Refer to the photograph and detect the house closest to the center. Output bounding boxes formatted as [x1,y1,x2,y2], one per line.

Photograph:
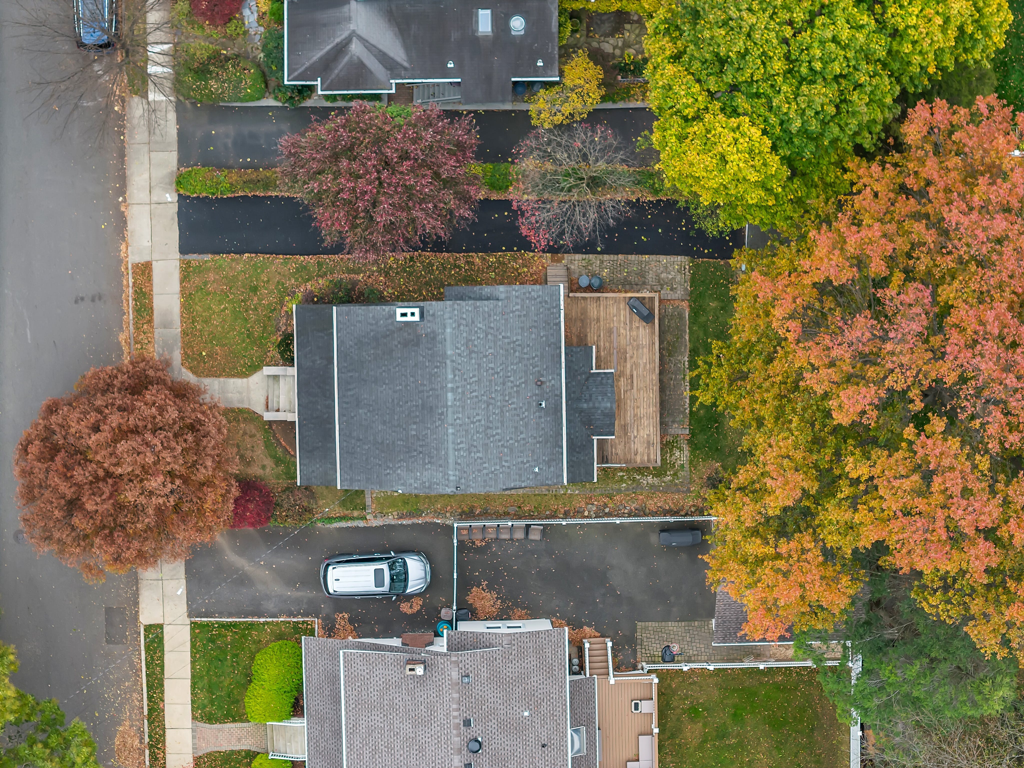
[293,284,616,495]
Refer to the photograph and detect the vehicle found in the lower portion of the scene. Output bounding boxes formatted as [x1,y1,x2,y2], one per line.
[321,550,432,602]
